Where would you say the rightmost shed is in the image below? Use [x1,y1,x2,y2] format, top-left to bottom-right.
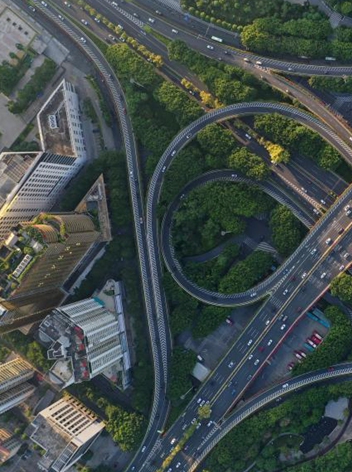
[191,360,215,381]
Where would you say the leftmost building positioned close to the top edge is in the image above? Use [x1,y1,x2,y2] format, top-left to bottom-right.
[0,6,40,68]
